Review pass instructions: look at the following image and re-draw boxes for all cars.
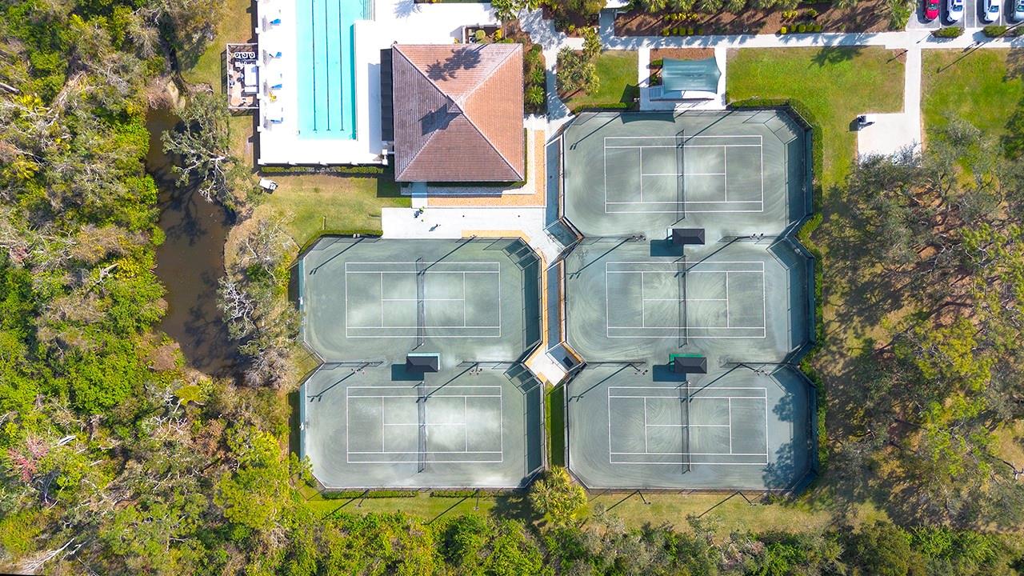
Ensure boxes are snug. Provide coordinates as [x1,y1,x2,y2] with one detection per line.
[925,0,942,20]
[1013,0,1024,21]
[949,0,967,22]
[984,0,1002,21]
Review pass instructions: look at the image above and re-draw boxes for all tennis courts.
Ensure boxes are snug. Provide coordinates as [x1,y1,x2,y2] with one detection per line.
[305,238,540,363]
[569,364,809,490]
[566,238,806,364]
[306,363,542,487]
[566,110,805,238]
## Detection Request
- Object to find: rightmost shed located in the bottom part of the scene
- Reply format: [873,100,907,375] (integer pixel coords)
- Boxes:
[670,355,706,373]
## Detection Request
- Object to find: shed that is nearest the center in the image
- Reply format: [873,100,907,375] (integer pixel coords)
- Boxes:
[406,354,440,371]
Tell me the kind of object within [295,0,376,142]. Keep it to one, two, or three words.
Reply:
swimming pool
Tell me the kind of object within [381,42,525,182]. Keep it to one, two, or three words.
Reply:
building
